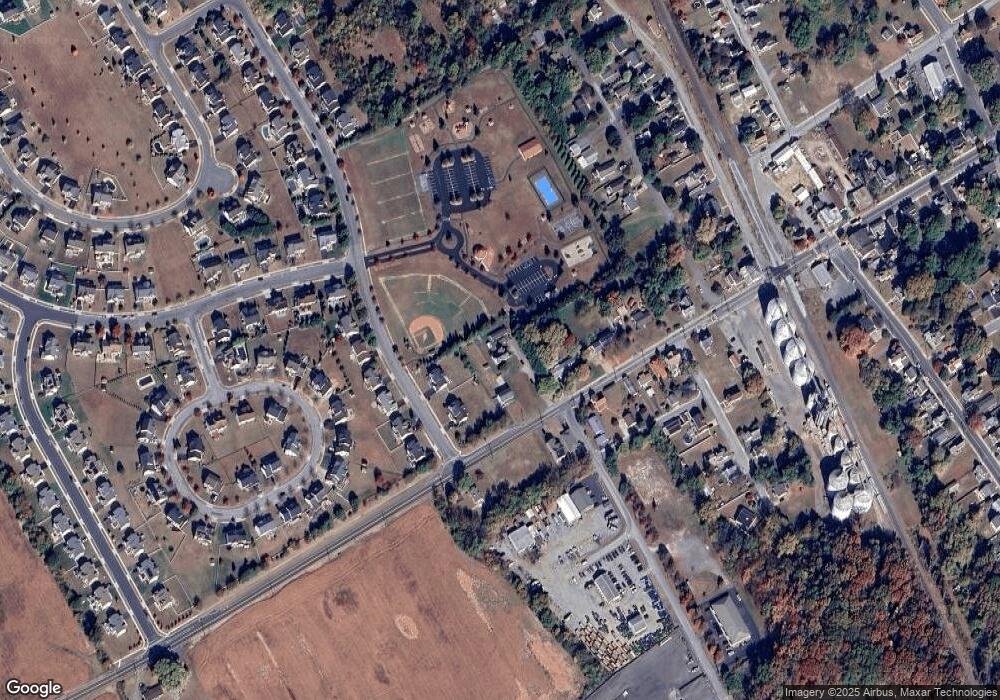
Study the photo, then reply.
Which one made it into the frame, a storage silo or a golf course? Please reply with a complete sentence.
There is a storage silo in the scene.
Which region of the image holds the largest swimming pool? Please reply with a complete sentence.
The largest swimming pool sits in the top section of the image.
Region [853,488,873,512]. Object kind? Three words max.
silo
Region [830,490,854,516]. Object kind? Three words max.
silo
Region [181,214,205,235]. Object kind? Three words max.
house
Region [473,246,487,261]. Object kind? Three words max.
gazebo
